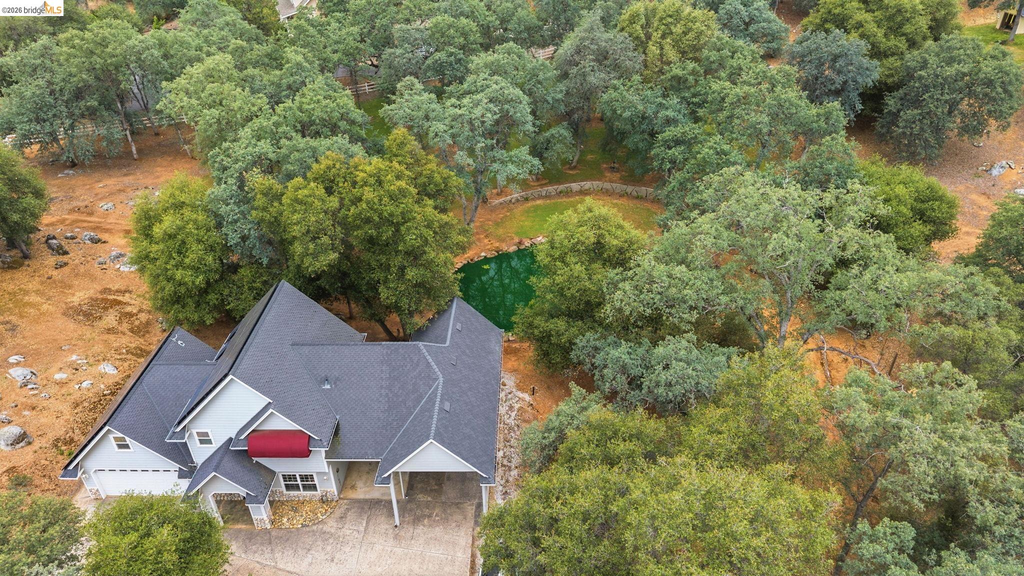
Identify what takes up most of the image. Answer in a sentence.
For the most part, this view shows trees.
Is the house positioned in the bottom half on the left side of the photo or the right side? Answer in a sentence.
You can find the house positioned in the bottom half on the left side of the picture.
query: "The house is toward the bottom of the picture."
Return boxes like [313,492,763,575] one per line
[57,279,506,529]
